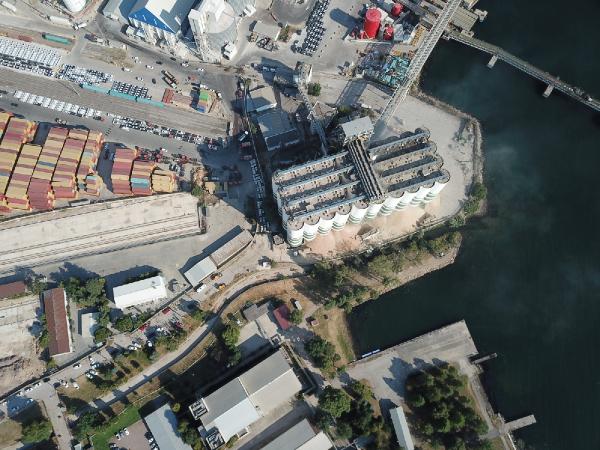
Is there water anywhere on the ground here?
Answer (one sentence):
Yes, there is water in the image.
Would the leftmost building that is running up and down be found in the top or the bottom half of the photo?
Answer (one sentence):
The leftmost building that is running up and down sits in the bottom half of the picture.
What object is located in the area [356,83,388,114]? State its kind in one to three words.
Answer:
building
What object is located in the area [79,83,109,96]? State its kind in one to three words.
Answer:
rail car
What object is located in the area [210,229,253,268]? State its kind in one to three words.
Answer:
building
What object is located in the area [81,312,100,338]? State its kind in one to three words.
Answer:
house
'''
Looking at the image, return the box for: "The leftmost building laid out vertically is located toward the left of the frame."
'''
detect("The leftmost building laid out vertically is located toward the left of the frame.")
[44,287,74,357]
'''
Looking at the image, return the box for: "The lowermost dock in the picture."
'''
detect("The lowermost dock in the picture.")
[499,413,537,435]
